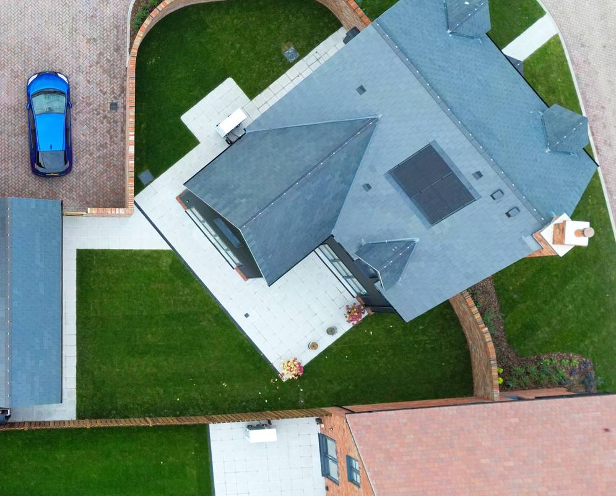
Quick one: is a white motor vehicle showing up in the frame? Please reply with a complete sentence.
No, no white motor vehicle can be seen from above.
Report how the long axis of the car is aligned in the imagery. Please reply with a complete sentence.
In this picture, the car lies from top to bottom.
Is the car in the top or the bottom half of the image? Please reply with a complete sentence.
You can find the car in the top half.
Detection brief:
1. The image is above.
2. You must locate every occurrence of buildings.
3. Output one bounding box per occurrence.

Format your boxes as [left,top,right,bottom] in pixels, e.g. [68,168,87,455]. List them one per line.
[0,197,64,407]
[175,0,599,324]
[319,387,616,496]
